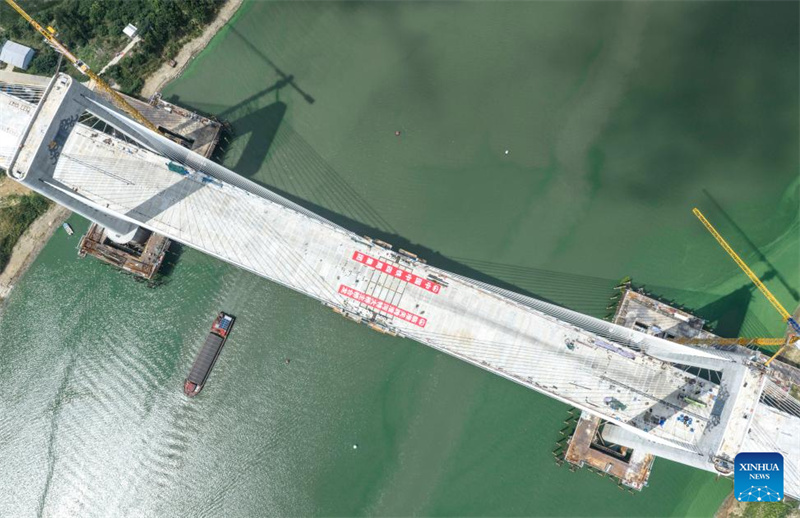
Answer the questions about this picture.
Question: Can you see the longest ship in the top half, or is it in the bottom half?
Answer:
bottom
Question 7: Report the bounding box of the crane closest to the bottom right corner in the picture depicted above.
[664,209,800,362]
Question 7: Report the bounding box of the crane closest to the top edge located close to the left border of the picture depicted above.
[5,0,170,138]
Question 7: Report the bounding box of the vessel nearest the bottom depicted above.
[181,309,236,397]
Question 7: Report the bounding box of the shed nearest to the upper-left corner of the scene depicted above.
[0,38,36,70]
